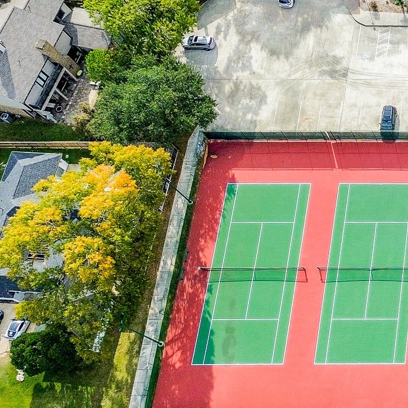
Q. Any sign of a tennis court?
Yes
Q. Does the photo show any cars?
Yes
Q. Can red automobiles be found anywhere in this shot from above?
No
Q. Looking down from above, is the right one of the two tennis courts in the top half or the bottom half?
bottom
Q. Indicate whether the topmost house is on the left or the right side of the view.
left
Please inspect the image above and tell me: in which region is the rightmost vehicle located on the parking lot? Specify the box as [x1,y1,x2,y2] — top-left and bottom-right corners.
[377,103,395,132]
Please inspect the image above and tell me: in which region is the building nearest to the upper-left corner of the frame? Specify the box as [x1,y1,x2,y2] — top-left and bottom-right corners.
[0,0,116,123]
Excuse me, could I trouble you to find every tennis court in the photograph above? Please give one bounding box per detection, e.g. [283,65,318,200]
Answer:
[294,141,408,408]
[152,140,329,408]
